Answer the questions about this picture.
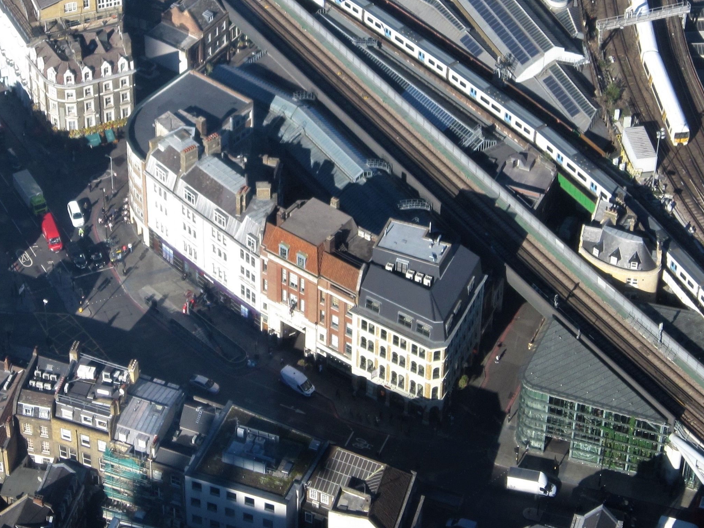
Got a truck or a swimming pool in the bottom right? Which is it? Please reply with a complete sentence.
Looking in the bottom right, you will find a truck.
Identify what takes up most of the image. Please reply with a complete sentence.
Most of the picture is covered by buildings.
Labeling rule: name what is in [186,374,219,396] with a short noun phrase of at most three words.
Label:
car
